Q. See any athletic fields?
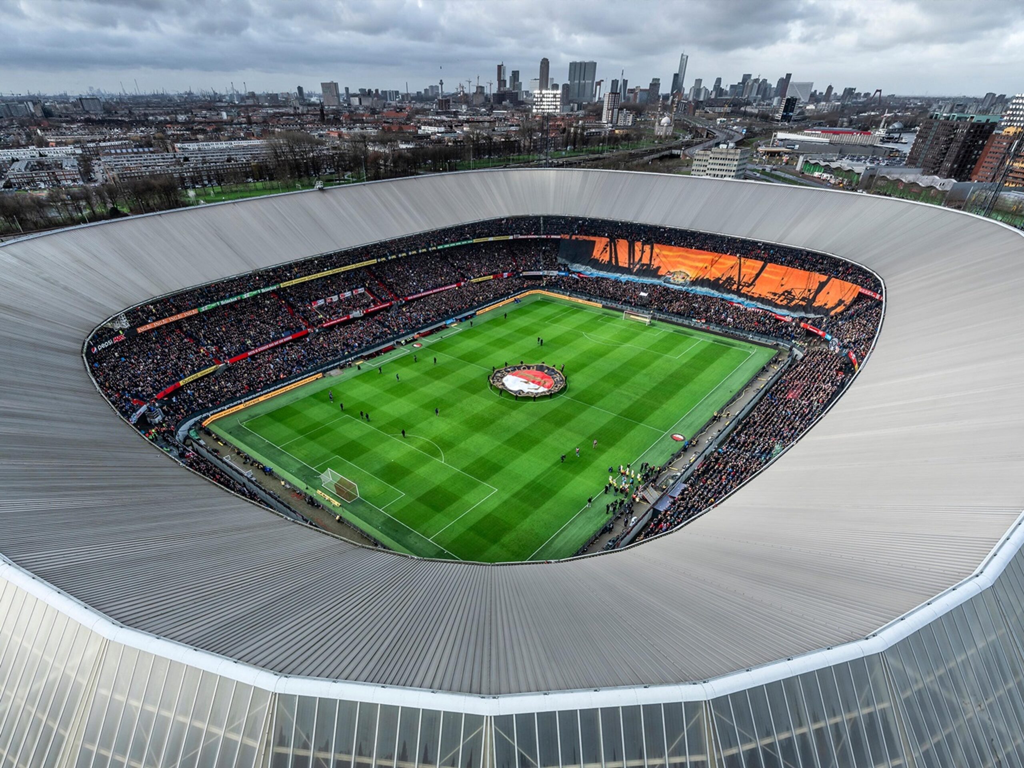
Yes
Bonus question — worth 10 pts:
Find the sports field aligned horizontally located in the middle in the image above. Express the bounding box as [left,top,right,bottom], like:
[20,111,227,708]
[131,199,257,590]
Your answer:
[241,299,752,558]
